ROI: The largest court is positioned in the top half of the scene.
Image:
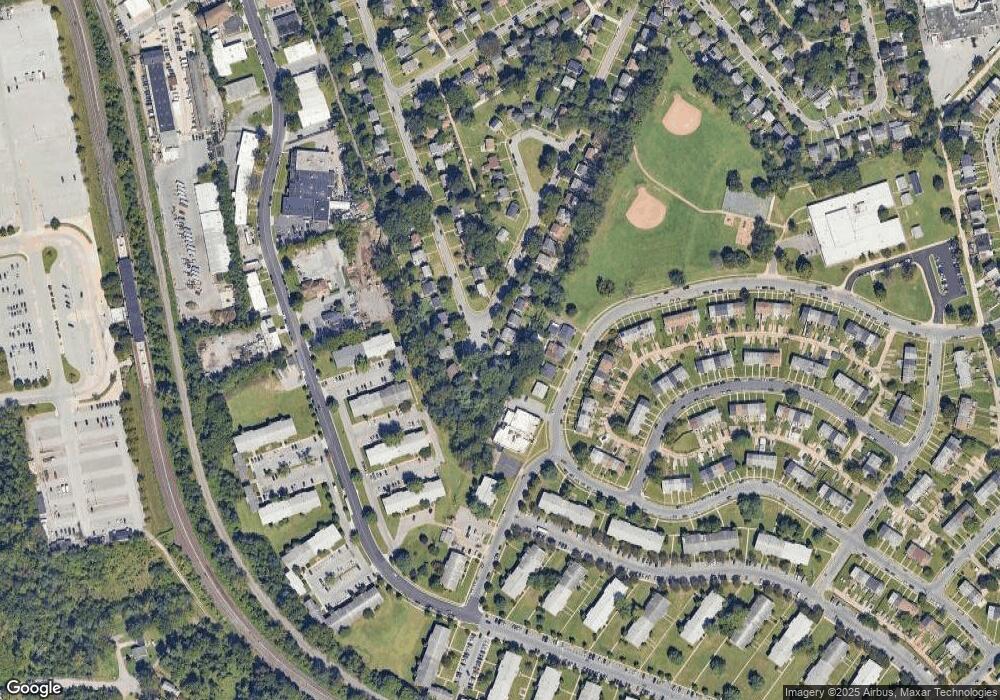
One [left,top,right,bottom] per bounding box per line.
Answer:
[724,187,773,218]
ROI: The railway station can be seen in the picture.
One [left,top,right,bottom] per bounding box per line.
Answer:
[109,235,150,387]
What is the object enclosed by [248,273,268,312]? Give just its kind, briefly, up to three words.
building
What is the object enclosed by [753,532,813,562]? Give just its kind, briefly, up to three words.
building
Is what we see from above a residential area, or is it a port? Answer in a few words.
residential area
